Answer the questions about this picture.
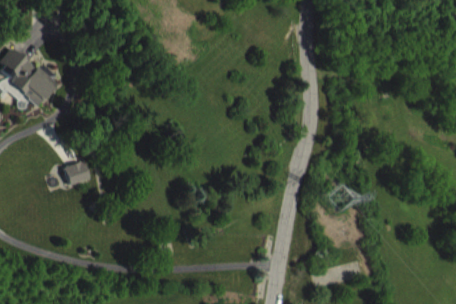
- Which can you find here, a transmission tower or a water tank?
transmission tower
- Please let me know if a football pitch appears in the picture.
No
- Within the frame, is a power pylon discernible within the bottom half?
Yes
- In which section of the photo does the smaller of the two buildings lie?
left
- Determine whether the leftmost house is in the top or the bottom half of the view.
top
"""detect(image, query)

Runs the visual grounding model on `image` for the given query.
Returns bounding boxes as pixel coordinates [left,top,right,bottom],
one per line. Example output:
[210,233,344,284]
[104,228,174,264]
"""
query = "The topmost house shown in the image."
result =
[0,50,58,112]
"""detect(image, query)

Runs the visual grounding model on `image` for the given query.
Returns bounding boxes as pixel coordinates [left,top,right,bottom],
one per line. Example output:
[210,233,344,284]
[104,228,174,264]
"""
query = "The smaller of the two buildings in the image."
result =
[62,162,91,186]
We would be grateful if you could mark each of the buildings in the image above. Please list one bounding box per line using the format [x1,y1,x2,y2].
[0,50,58,112]
[62,162,91,186]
